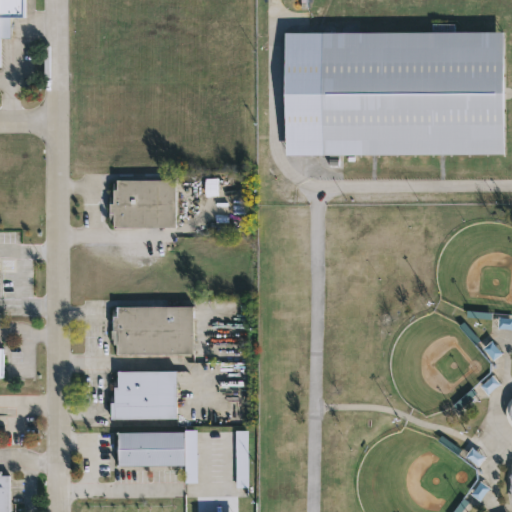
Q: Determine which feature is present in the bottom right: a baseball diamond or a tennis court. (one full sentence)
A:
Looking in the bottom right, you will find a baseball diamond.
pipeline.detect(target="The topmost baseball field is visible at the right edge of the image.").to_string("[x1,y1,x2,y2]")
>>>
[436,222,512,312]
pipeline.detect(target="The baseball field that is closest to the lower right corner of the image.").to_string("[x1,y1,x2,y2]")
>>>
[357,427,478,512]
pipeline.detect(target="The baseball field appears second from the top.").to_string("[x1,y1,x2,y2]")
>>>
[390,310,491,417]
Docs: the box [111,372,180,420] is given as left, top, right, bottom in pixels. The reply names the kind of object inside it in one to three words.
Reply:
building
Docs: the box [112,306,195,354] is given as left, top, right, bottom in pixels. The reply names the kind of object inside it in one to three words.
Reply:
building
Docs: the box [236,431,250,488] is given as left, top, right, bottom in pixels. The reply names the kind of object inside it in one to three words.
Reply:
shed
